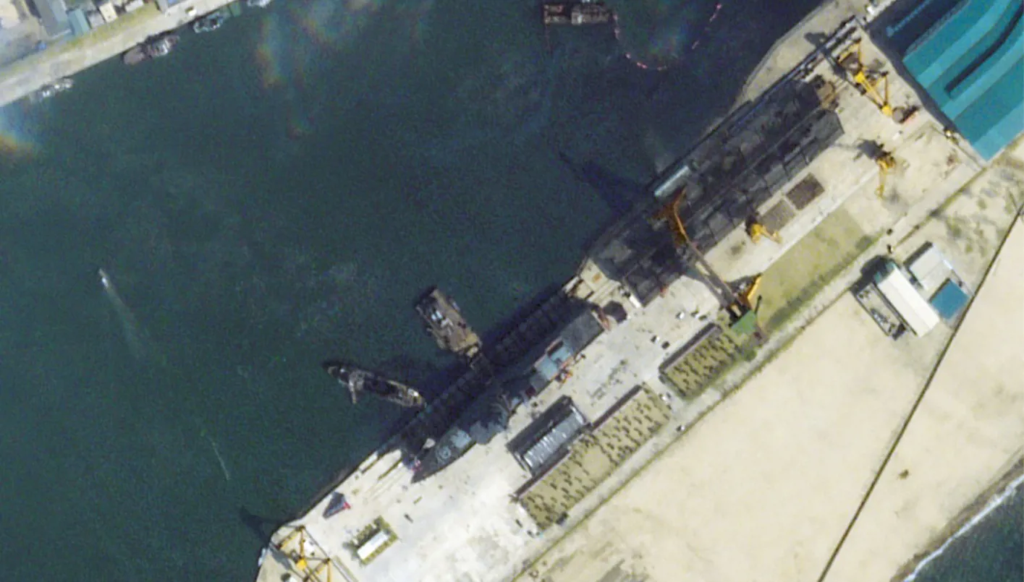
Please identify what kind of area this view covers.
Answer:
port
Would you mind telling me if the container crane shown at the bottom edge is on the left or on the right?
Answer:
left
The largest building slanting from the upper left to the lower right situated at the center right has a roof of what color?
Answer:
white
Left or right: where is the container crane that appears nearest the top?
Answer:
right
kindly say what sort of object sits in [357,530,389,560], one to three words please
shed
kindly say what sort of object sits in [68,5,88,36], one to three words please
house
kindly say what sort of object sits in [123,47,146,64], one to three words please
ship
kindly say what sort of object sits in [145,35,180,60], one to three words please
boat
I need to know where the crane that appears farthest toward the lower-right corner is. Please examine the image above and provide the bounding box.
[729,273,762,334]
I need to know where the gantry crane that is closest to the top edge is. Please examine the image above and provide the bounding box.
[835,38,896,116]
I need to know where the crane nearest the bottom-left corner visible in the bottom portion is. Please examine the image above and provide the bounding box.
[277,525,332,582]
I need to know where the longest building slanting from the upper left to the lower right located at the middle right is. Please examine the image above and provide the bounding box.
[875,262,940,337]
